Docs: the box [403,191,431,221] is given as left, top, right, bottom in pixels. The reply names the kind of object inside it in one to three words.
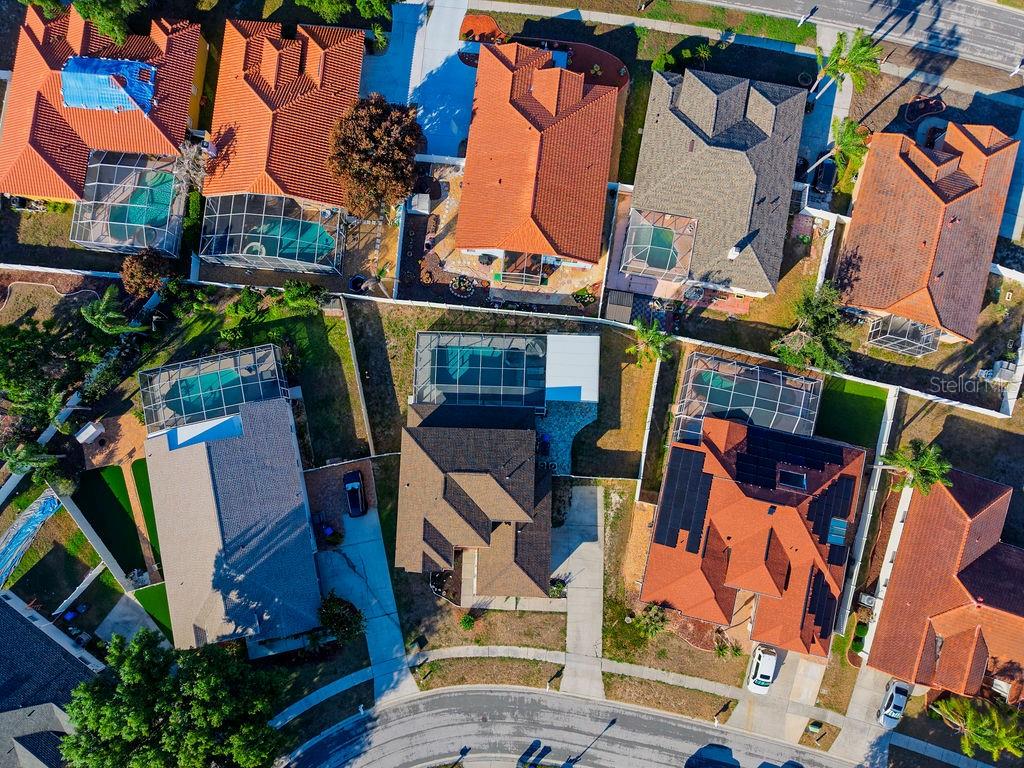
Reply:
shed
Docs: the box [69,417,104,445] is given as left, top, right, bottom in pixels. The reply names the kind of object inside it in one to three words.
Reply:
shed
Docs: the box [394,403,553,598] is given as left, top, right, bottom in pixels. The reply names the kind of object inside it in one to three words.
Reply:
house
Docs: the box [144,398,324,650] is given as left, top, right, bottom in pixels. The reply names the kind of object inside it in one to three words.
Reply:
house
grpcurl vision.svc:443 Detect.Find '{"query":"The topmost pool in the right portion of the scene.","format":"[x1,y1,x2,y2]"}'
[630,225,680,269]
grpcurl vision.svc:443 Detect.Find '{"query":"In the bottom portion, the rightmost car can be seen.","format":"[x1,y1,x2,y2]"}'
[873,676,910,731]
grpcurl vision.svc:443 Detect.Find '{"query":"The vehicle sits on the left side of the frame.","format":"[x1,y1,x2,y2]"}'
[339,468,367,520]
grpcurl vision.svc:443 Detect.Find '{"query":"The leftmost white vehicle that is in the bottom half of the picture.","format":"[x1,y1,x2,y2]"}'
[745,642,779,696]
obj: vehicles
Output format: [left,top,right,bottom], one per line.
[873,676,910,731]
[745,642,779,696]
[339,468,367,520]
[813,153,835,199]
